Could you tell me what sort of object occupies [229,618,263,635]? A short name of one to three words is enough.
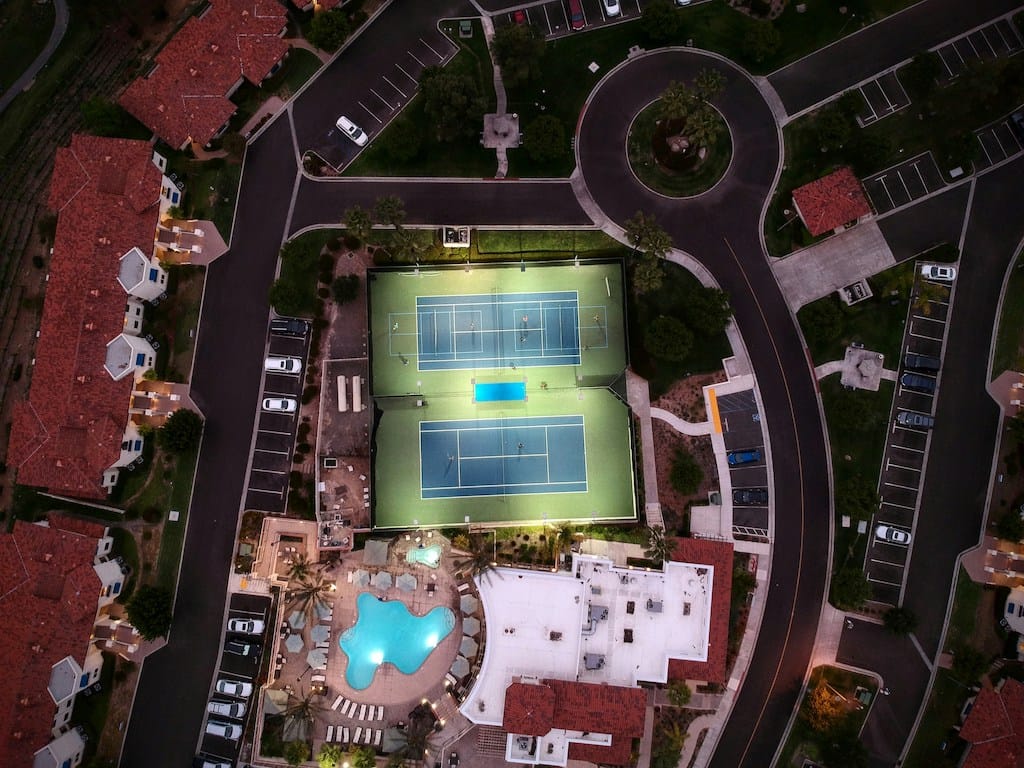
car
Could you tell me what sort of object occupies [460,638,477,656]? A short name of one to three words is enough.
umbrella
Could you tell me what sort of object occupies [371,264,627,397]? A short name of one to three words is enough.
tennis court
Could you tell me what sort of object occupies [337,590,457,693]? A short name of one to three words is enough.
swimming pool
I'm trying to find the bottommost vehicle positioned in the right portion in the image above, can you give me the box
[874,526,909,543]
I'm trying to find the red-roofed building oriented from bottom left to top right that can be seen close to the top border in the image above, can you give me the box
[120,0,314,155]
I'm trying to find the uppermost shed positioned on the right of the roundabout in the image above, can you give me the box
[788,166,872,238]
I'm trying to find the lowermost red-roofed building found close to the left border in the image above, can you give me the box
[0,511,124,768]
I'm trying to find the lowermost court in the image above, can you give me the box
[373,387,636,527]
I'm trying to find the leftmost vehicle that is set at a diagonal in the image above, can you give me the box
[335,115,368,147]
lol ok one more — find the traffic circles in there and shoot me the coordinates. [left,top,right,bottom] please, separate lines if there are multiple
[580,47,781,248]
